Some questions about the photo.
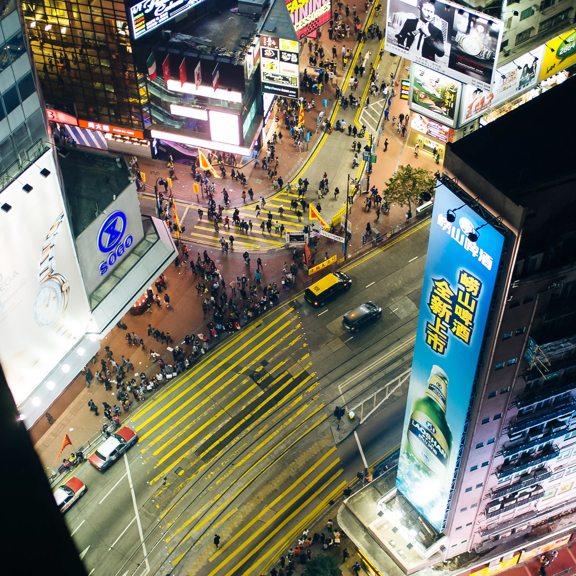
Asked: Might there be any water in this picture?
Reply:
No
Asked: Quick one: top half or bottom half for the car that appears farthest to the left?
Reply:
bottom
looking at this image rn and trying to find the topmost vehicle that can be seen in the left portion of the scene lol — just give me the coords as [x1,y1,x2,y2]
[88,427,138,473]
